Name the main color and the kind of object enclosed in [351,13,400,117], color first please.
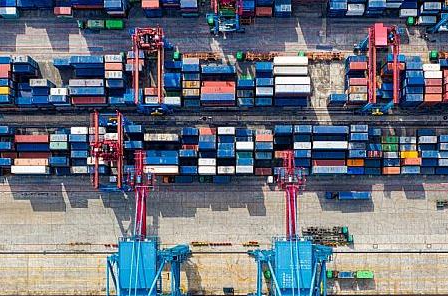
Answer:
red container crane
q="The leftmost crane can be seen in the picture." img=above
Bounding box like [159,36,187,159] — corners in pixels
[91,105,139,189]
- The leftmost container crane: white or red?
red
